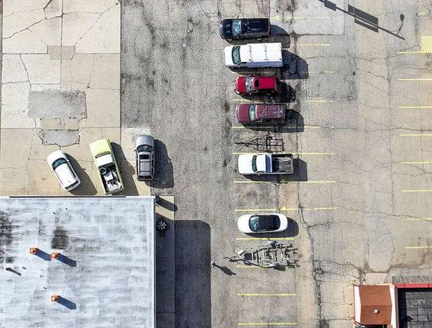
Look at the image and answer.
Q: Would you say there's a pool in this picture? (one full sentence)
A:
No, the scene contains no pool.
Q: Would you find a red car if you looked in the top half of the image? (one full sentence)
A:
Yes, a red car shows up in the top half of the image.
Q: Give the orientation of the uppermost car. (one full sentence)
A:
In this picture, the uppermost car lies horizontally.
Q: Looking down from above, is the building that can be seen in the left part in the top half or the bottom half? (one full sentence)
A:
You can find the building that can be seen in the left part in the bottom half.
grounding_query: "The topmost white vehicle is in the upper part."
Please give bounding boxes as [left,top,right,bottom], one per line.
[225,44,284,68]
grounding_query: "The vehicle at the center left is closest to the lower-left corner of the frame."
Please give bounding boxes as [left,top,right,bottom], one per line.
[50,151,80,192]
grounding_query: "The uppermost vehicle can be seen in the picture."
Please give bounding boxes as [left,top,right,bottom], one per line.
[221,18,270,41]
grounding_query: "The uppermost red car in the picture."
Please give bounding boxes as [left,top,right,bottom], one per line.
[235,76,280,97]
